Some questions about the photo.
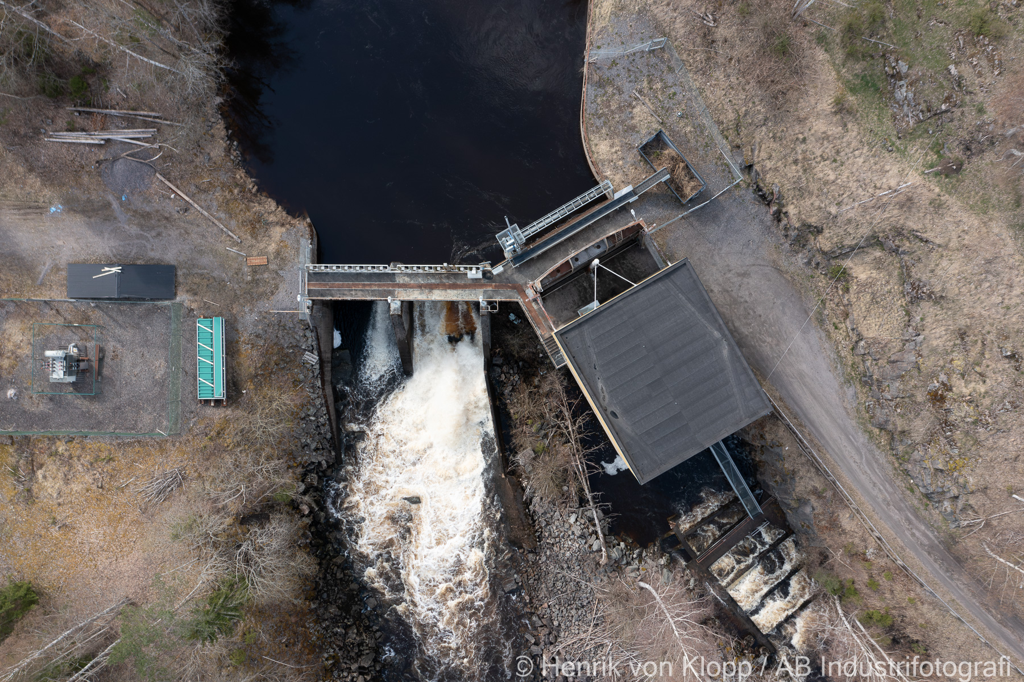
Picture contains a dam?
Yes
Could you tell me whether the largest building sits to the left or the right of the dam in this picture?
right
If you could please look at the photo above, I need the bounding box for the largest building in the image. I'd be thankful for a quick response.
[552,258,773,484]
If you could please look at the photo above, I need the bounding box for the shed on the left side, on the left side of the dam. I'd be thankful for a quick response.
[68,263,176,299]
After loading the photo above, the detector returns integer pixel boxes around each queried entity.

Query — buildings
[68,263,176,299]
[552,258,773,484]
